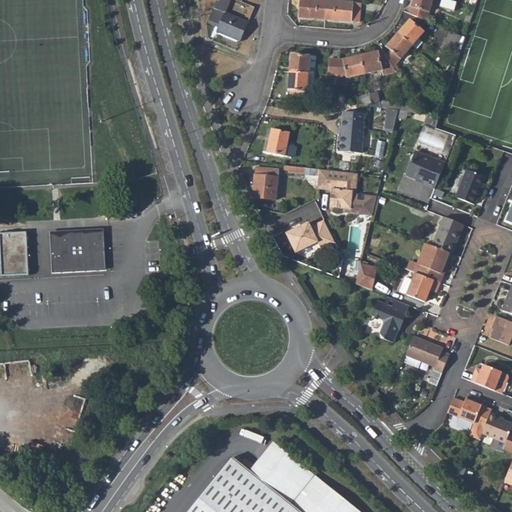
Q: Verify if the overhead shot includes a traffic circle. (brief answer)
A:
Yes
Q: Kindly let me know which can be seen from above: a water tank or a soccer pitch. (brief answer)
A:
soccer pitch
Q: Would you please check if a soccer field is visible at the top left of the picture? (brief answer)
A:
Yes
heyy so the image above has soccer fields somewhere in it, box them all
[0,0,86,172]
[446,0,512,144]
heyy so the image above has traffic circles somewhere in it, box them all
[186,270,312,400]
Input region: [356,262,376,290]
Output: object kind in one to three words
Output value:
building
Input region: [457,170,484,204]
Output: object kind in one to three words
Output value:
house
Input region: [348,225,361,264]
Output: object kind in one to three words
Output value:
swimming pool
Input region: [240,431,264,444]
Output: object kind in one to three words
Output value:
vehicle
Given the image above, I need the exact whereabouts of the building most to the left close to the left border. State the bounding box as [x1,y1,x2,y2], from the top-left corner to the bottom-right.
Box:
[0,230,29,276]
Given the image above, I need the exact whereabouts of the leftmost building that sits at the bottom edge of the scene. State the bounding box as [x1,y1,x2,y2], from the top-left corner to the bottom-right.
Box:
[186,458,306,512]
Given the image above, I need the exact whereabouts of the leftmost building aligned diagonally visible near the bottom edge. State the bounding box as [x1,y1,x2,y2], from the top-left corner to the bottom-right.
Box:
[252,442,362,512]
